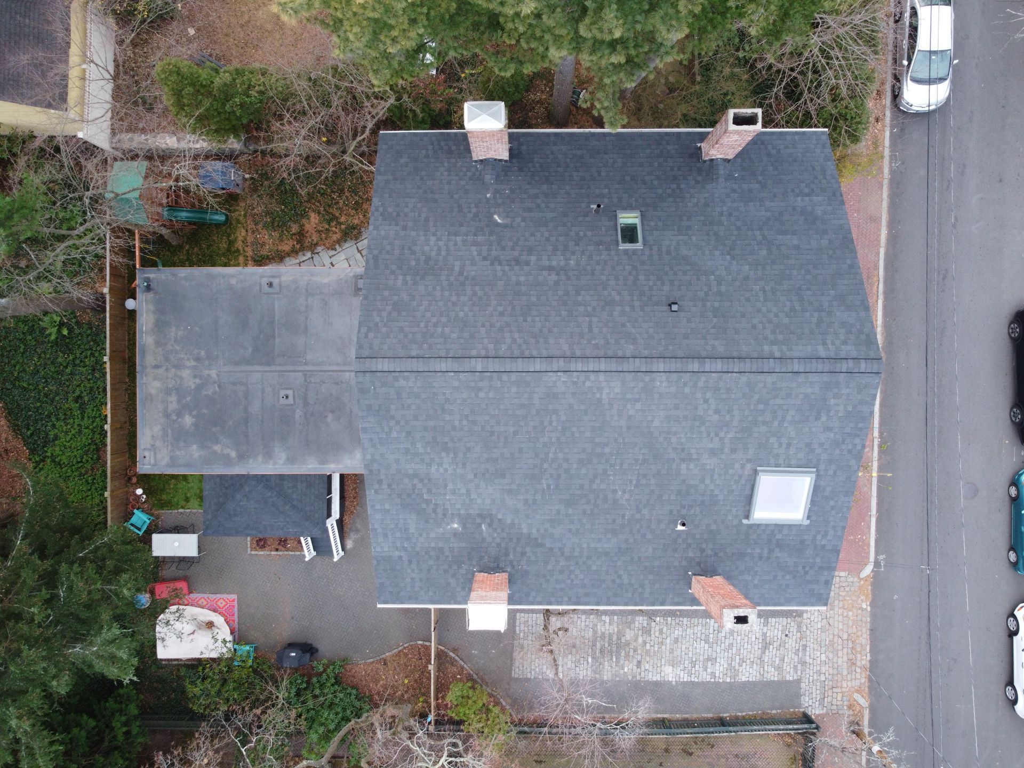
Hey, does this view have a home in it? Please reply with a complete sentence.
Yes, the photo shows a home.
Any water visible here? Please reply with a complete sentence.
No, there is no water in the image.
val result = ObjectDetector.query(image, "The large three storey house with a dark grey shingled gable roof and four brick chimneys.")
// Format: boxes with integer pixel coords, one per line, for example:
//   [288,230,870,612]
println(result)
[354,104,883,632]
